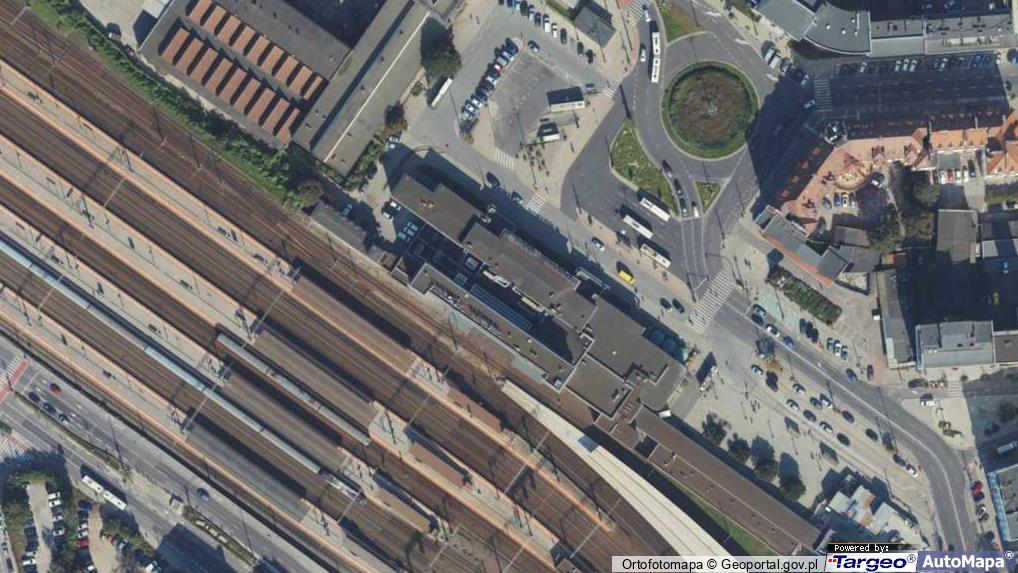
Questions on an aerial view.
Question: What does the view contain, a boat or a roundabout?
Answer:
roundabout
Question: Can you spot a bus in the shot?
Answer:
Yes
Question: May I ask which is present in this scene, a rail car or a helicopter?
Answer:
rail car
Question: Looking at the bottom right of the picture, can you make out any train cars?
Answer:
No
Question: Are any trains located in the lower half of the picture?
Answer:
Yes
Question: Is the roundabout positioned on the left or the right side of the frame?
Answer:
right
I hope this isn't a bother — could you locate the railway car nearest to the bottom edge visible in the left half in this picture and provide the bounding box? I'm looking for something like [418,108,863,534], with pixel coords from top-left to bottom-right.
[320,472,365,505]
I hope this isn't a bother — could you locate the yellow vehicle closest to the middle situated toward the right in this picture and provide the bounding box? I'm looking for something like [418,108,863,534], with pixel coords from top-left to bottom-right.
[617,270,635,285]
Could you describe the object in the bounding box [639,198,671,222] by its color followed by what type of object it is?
white bus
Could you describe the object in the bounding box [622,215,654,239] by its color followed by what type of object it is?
white bus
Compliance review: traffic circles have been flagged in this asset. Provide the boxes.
[662,59,760,157]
